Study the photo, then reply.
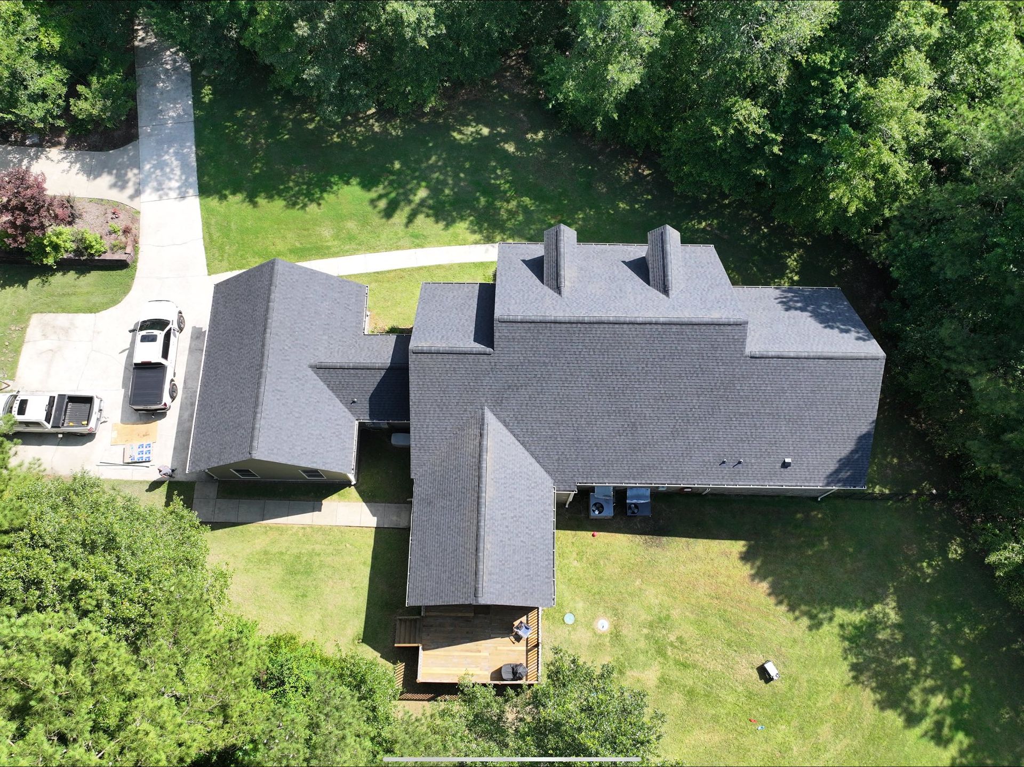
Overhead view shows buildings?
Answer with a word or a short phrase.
Yes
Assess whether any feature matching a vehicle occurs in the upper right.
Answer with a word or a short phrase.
No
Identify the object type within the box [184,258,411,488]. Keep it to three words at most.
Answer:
building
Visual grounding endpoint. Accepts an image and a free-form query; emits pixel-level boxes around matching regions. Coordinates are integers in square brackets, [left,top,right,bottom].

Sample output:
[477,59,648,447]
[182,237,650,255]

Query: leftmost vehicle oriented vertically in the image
[127,299,185,415]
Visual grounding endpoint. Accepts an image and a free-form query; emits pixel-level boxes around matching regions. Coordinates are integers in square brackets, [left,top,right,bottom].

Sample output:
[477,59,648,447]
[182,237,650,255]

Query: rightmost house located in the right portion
[404,223,885,608]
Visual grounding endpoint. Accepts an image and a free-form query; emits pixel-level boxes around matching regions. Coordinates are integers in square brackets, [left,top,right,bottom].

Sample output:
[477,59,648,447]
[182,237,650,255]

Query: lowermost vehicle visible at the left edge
[0,379,109,432]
